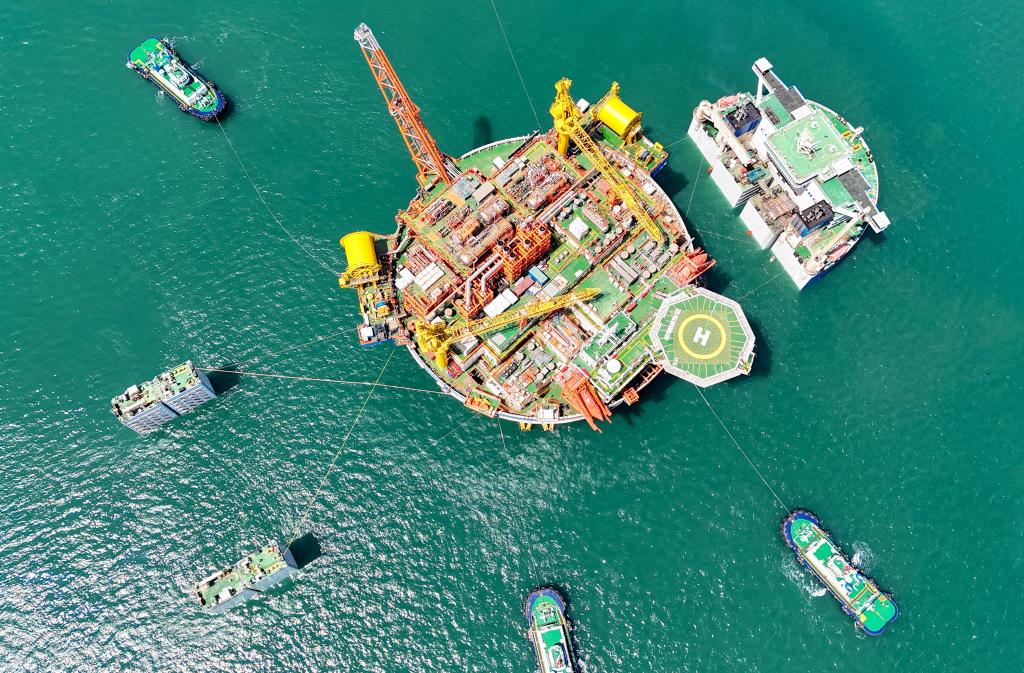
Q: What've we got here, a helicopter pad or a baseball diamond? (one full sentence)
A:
This aerial view contains a helicopter pad.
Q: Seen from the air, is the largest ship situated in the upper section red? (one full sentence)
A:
No, the largest ship situated in the upper section is actually white.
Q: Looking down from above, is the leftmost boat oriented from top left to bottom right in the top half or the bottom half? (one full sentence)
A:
You can find the leftmost boat oriented from top left to bottom right in the top half.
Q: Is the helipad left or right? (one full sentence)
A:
The helipad is on the right side of the image.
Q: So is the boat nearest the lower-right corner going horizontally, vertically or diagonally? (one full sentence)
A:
In this picture, the boat nearest the lower-right corner lies diagonally.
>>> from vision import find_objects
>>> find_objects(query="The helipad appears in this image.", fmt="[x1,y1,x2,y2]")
[648,287,758,387]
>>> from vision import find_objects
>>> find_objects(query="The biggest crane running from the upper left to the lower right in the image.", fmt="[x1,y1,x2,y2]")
[551,72,664,247]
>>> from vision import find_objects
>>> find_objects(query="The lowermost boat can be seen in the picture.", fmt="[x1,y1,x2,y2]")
[526,585,584,673]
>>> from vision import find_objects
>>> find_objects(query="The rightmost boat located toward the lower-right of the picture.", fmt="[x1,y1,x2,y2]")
[781,506,895,636]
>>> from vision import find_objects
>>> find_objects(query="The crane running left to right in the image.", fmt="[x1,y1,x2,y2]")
[415,296,599,370]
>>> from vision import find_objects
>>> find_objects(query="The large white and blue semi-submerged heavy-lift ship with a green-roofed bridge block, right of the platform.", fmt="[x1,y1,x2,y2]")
[690,53,895,290]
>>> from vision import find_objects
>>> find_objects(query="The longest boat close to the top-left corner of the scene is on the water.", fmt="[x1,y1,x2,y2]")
[129,43,225,122]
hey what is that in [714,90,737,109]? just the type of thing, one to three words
boat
